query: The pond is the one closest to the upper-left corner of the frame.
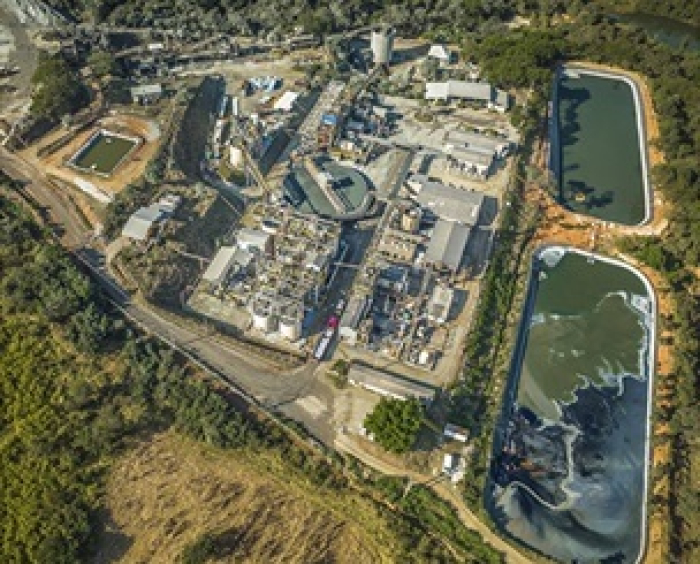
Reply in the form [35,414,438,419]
[67,130,142,177]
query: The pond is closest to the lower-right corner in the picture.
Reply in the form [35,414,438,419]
[485,244,658,564]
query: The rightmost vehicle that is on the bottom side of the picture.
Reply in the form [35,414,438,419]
[452,461,465,481]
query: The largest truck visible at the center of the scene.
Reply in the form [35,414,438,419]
[315,312,341,360]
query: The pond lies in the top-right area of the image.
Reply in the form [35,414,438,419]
[549,61,652,230]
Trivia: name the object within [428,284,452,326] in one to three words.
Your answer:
building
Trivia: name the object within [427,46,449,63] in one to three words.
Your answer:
house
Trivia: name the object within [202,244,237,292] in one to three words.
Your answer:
building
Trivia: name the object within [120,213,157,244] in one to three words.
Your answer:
shed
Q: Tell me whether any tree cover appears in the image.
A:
Yes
